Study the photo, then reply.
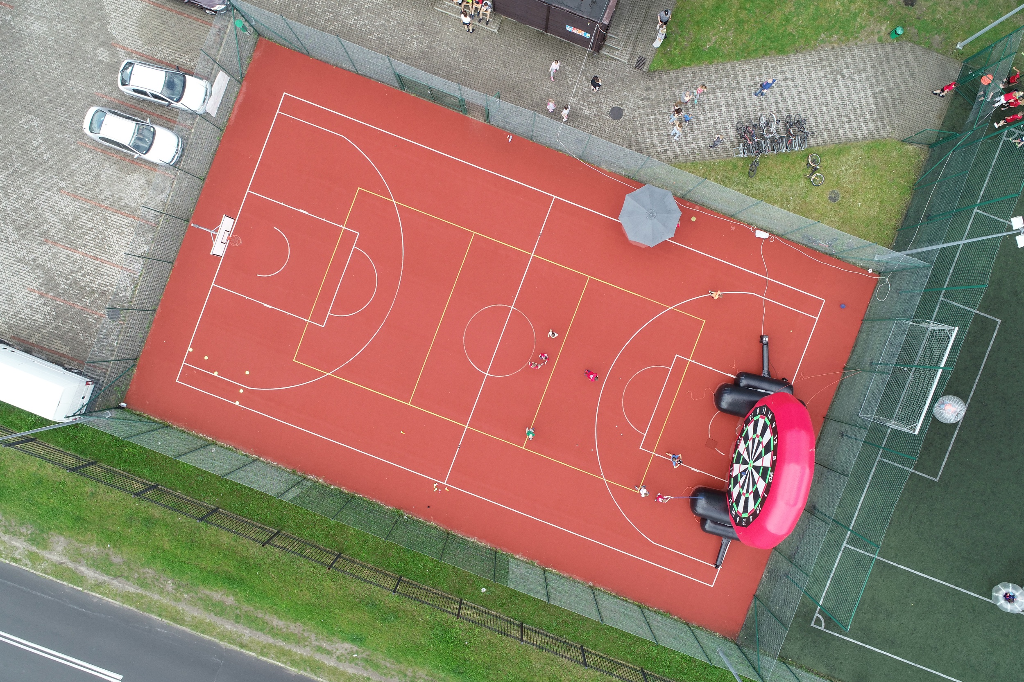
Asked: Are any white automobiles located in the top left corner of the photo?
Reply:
Yes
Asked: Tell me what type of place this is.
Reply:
sports ground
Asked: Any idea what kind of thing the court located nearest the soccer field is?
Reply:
basketball court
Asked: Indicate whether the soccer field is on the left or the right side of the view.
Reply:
right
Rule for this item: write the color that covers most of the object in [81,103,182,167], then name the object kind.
white car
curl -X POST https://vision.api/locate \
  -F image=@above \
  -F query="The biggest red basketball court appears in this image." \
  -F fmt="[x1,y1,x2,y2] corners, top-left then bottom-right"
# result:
[122,36,880,640]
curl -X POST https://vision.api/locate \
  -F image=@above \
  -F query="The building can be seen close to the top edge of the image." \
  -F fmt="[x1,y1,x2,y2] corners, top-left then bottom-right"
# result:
[493,0,620,54]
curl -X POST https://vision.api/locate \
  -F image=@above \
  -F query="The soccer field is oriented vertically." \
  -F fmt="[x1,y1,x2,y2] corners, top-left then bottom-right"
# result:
[735,0,1024,682]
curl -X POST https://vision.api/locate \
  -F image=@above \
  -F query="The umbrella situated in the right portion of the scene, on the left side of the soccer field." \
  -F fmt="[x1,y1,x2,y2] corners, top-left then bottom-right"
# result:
[618,184,682,248]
